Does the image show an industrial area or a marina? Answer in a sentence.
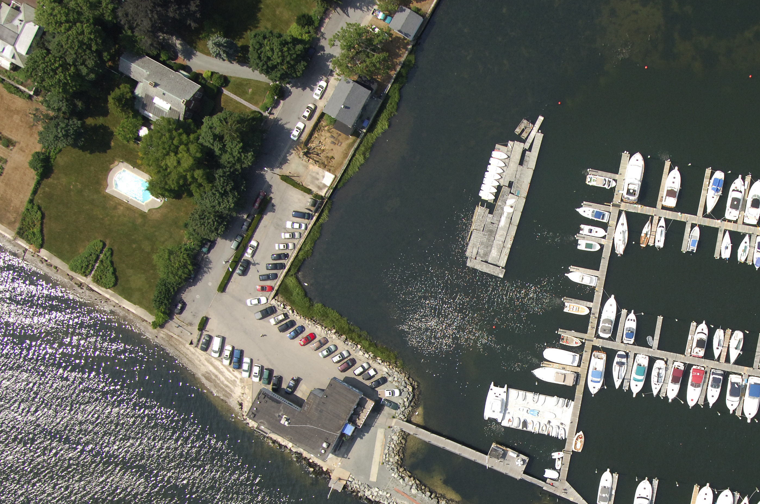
What you see here is a marina.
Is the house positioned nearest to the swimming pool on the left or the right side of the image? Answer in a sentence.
The house positioned nearest to the swimming pool is on the left side of the image.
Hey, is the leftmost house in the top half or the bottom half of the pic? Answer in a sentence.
The leftmost house is in the top half of the image.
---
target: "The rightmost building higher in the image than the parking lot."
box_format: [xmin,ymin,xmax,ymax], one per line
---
[389,7,423,40]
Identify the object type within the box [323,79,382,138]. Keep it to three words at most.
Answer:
house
